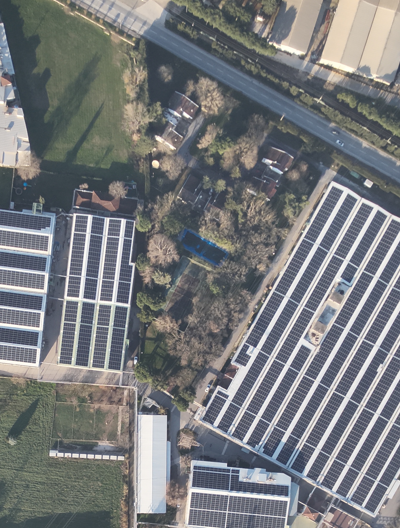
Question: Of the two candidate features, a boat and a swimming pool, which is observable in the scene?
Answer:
swimming pool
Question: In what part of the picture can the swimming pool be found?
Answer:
center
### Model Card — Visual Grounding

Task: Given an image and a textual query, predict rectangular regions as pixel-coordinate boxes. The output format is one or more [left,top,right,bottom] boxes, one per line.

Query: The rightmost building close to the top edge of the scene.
[319,0,400,89]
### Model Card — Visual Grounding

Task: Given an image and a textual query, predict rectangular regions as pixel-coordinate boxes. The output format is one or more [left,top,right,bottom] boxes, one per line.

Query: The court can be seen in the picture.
[163,256,213,332]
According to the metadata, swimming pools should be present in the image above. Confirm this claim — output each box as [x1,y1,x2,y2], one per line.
[181,229,228,264]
